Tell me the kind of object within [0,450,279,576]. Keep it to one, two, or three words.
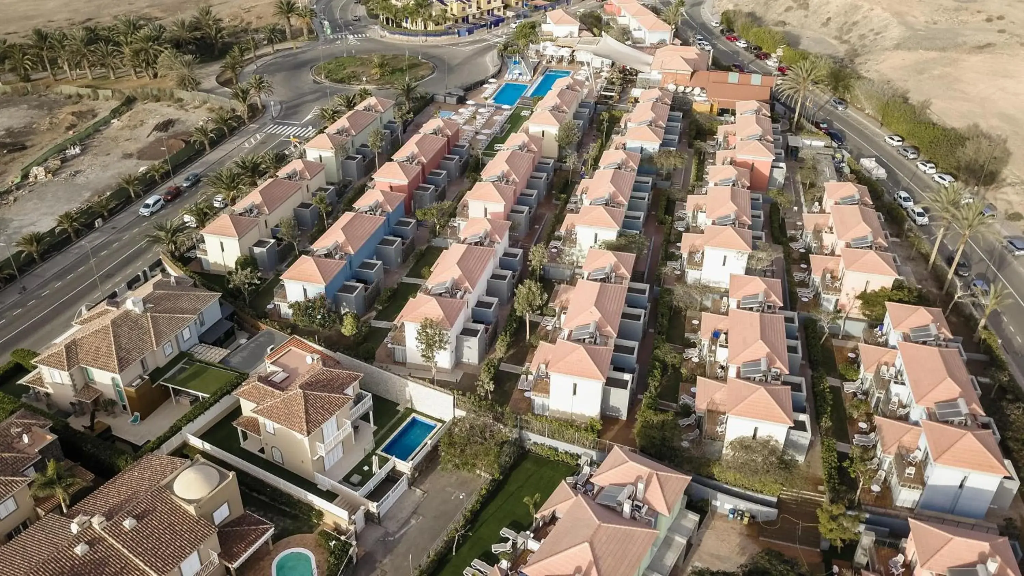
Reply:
house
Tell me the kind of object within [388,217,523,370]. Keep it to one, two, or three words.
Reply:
house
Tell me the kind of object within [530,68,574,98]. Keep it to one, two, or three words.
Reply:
swimming pool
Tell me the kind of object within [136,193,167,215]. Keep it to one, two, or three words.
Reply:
car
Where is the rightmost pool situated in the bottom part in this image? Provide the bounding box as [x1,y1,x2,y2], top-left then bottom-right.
[377,416,443,463]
